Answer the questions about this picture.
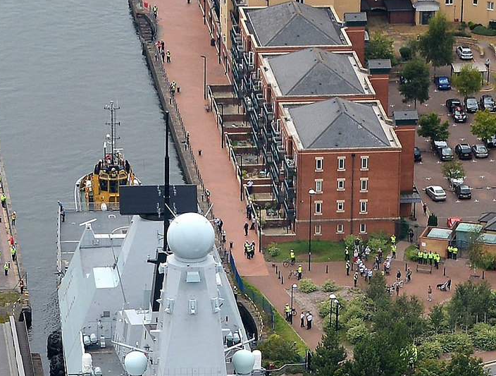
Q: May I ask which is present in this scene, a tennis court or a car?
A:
car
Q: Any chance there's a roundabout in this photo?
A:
No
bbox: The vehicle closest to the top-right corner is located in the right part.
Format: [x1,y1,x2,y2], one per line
[454,46,475,60]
